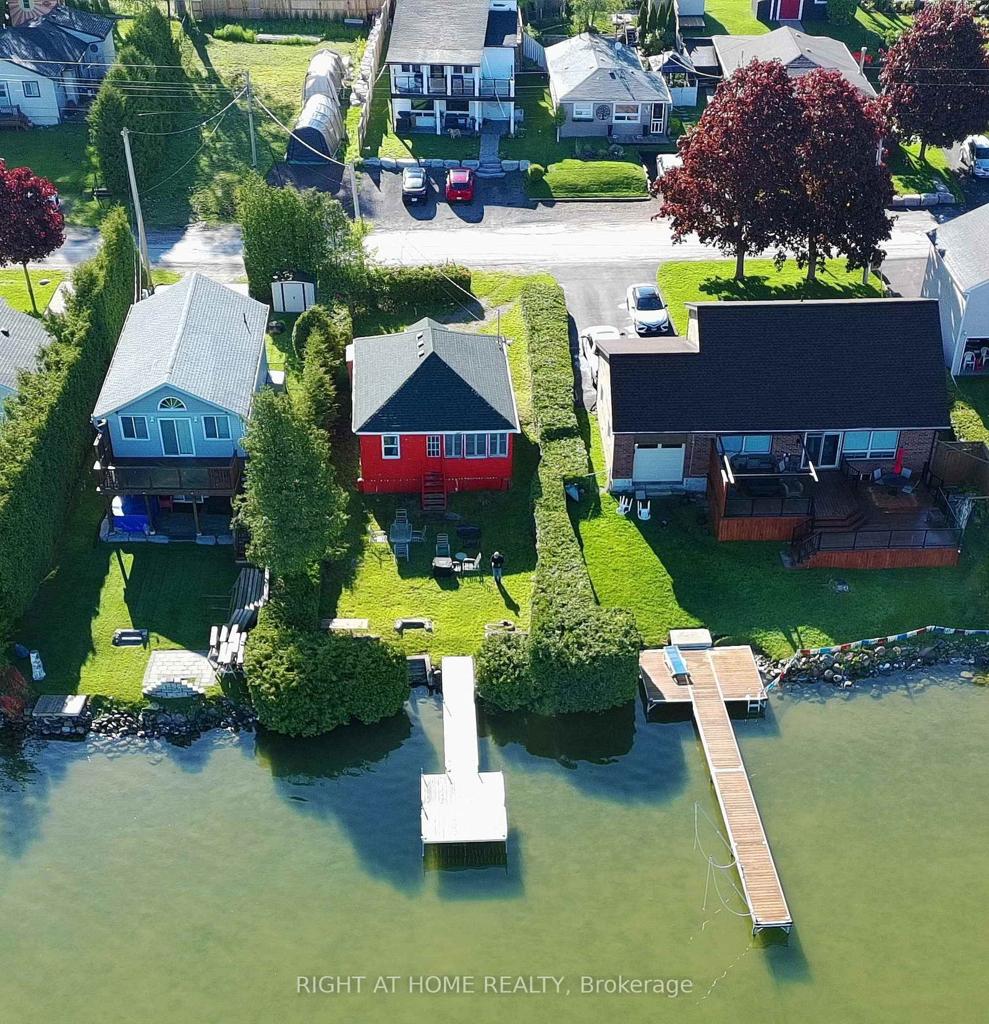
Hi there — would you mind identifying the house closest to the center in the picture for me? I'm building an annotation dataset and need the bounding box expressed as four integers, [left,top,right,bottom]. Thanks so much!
[351,315,520,491]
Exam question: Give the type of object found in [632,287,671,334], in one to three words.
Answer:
car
